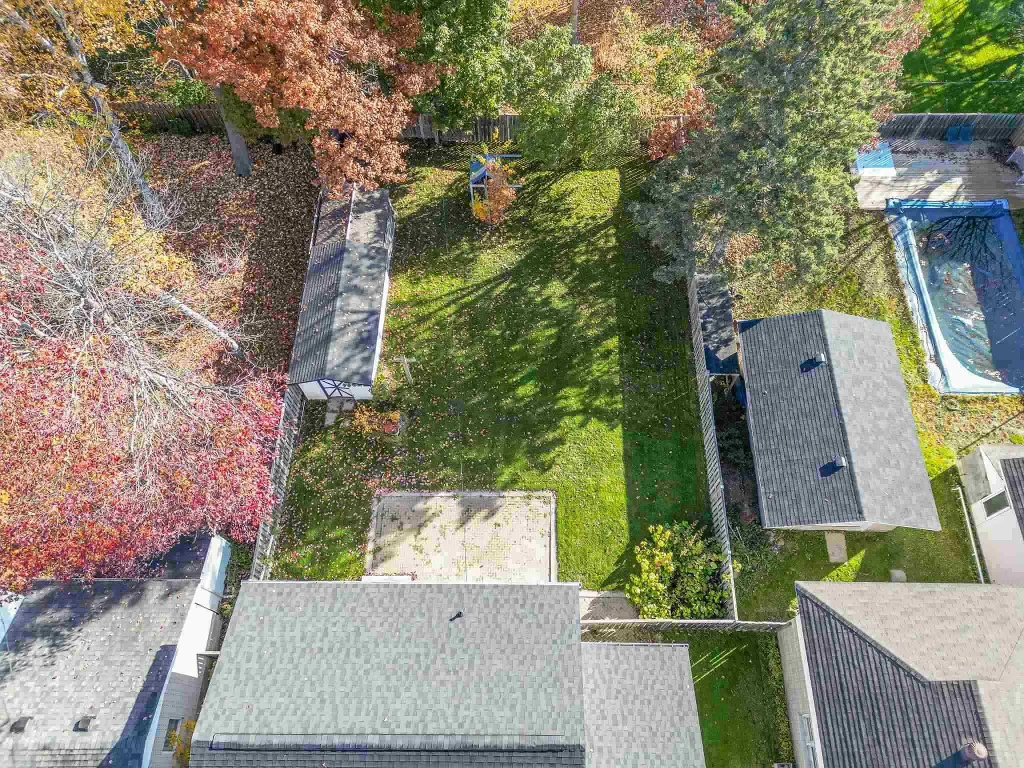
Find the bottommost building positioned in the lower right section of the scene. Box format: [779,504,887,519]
[782,578,1024,768]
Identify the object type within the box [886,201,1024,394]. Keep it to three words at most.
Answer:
swimming pool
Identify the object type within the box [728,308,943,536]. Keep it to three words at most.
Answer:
building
